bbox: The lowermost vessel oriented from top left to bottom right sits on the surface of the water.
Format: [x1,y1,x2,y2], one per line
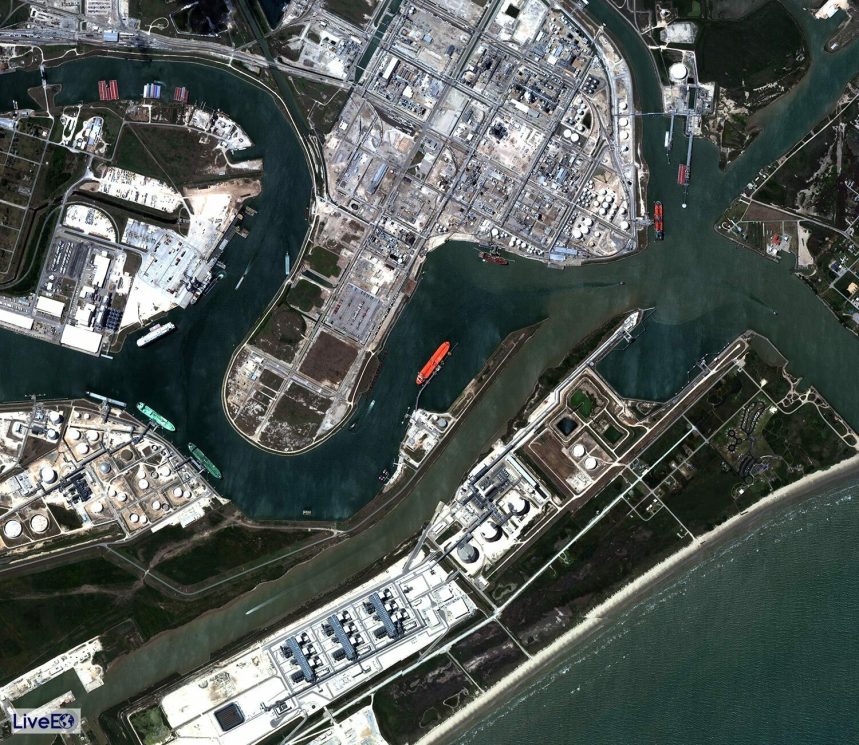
[186,442,221,479]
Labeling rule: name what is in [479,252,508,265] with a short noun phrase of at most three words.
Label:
ship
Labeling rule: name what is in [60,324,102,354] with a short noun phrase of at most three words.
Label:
building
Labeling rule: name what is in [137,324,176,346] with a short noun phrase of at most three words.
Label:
ship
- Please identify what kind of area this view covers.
port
